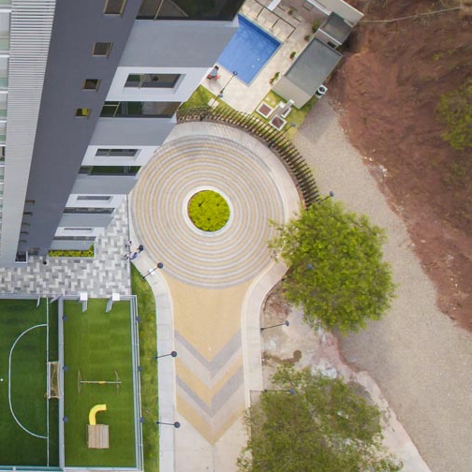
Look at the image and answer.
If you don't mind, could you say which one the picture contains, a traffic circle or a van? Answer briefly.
traffic circle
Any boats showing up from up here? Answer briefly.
No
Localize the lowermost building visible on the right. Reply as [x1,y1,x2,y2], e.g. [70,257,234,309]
[274,37,343,108]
